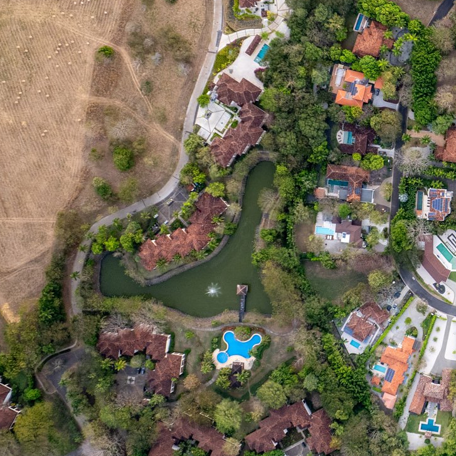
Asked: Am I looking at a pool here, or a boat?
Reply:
pool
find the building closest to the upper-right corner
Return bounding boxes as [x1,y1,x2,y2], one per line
[360,21,395,54]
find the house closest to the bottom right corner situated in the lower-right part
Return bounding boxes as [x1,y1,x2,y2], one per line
[411,368,456,414]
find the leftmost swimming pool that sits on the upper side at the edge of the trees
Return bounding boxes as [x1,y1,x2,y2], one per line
[254,43,270,63]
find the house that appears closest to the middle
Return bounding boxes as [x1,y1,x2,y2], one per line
[139,185,224,269]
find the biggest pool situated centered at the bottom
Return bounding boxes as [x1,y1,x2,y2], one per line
[223,330,262,360]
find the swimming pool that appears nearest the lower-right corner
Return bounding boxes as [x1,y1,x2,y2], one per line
[420,418,440,434]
